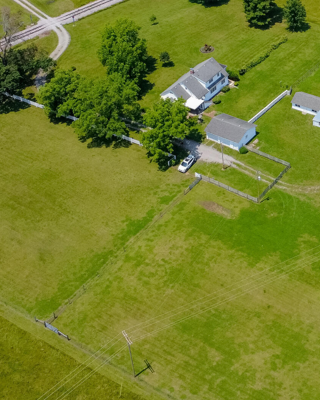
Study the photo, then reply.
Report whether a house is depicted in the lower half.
No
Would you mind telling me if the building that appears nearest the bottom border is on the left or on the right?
right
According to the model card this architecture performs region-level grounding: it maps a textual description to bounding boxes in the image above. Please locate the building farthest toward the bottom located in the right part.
[203,114,259,152]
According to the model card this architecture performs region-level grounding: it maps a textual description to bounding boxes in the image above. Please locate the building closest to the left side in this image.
[157,57,229,118]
